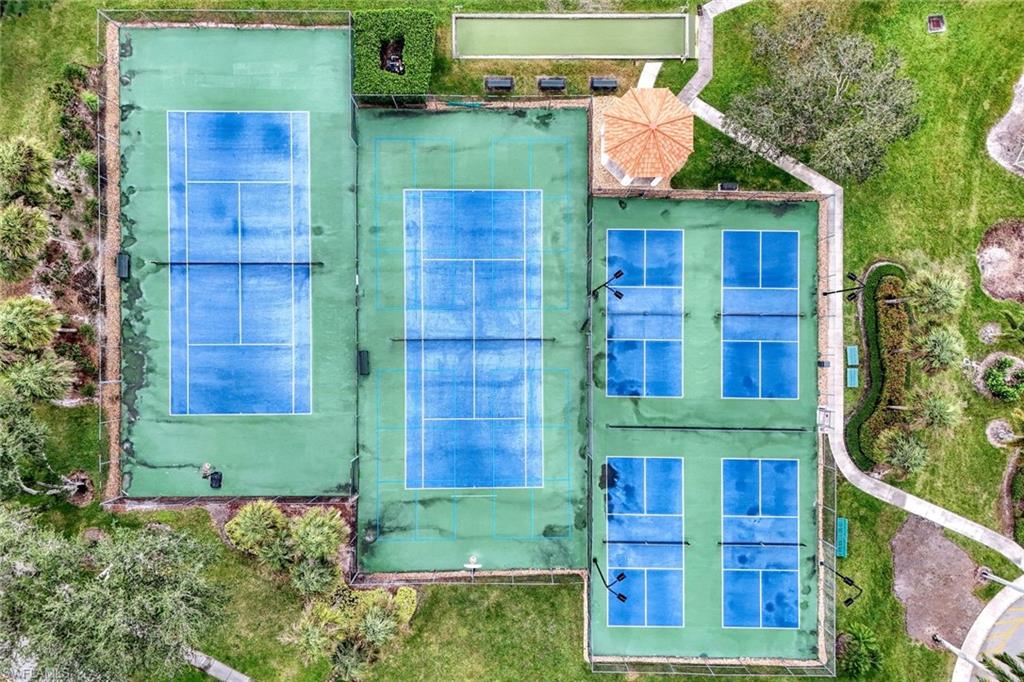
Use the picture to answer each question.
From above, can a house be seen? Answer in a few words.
No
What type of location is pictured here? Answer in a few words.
sports ground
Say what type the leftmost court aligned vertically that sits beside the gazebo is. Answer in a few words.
tennis court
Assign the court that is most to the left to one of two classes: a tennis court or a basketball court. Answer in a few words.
tennis court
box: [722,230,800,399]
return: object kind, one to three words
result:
sports court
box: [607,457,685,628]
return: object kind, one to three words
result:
sports court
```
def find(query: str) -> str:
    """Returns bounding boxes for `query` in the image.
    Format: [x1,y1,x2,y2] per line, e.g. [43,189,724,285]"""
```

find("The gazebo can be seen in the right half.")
[599,89,693,185]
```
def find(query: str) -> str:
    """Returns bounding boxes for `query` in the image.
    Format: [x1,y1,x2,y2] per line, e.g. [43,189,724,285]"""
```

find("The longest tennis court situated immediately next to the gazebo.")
[357,107,588,574]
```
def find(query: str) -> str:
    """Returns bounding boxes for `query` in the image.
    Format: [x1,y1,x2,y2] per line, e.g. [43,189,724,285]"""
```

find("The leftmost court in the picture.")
[119,27,357,497]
